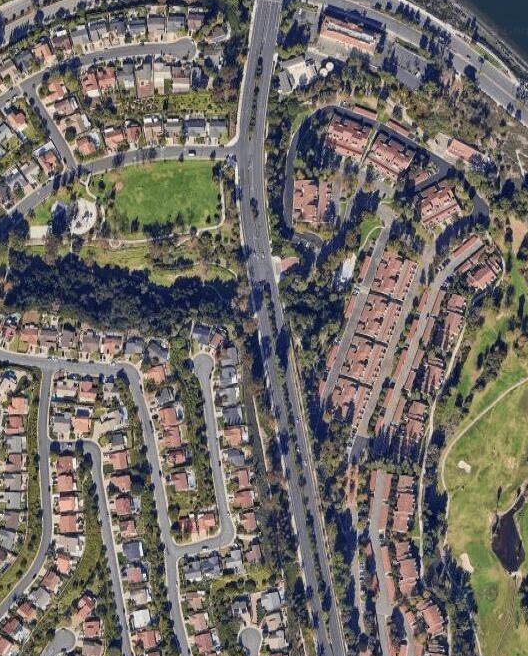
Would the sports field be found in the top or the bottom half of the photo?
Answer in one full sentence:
The sports field sits in the top half of the picture.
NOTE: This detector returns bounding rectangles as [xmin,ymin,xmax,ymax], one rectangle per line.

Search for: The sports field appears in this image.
[109,160,218,228]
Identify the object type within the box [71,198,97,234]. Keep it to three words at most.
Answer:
playground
